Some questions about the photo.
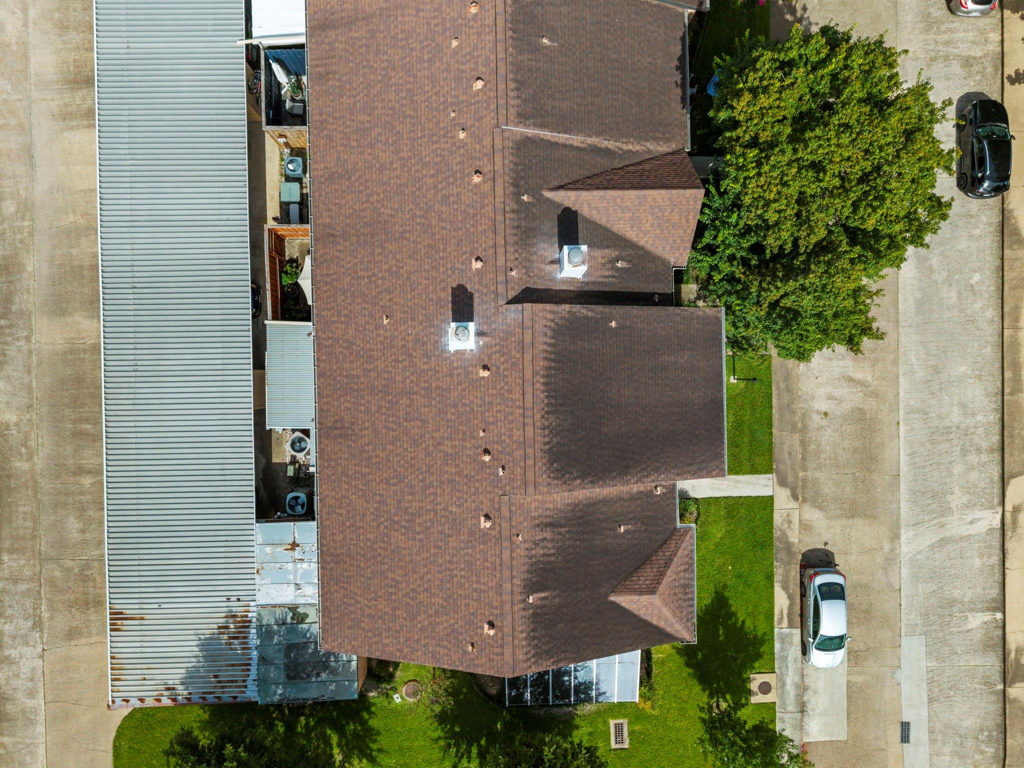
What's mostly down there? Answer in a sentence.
The bulk of the photo consists of buildings.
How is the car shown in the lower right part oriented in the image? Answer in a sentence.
From this overhead view, the car shown in the lower right part appears to run up and down.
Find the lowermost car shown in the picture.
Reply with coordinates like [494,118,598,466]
[800,565,852,667]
